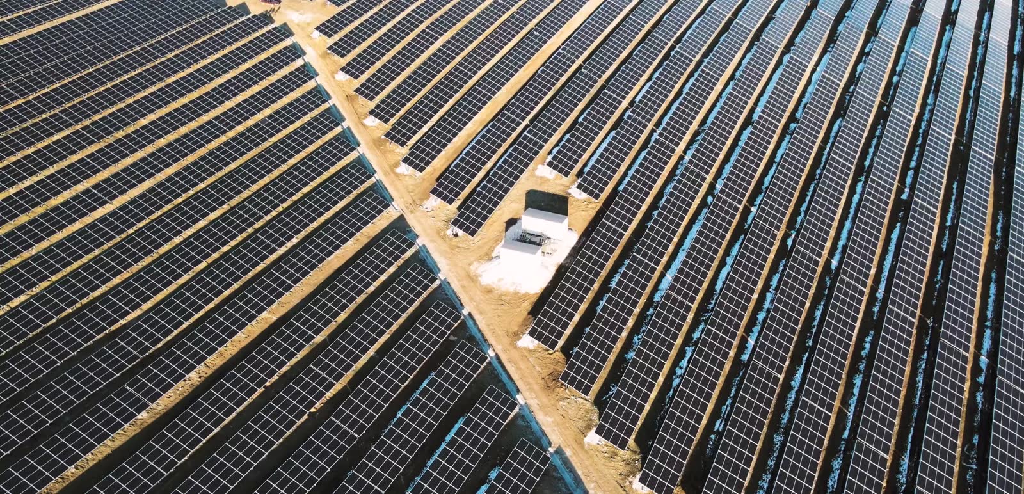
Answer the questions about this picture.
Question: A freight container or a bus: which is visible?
freight container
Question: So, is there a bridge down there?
No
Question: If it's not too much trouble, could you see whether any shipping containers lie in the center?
Yes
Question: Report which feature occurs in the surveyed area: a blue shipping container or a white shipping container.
white shipping container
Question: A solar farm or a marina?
solar farm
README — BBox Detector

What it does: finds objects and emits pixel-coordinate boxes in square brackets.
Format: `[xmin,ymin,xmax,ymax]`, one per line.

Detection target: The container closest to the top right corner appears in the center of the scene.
[523,207,566,237]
